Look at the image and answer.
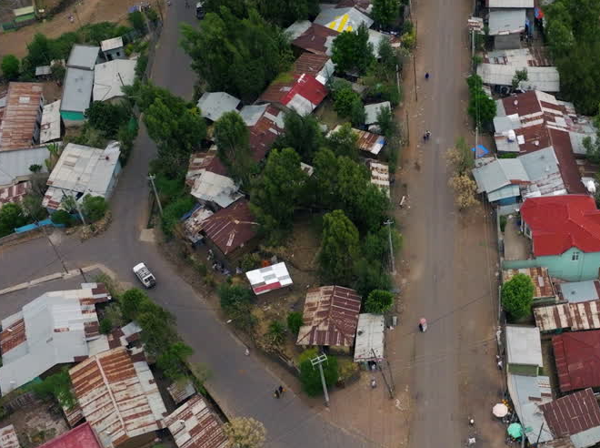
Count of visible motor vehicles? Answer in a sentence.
The photo contains exactly 1 motor vehicle.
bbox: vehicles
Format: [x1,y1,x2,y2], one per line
[132,264,155,287]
